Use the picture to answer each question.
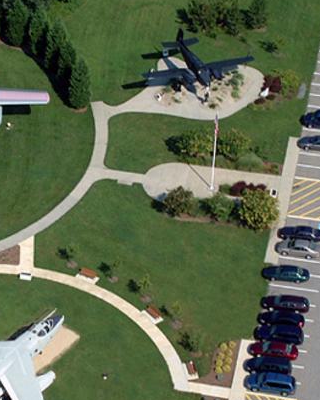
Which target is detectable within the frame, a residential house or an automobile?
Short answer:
automobile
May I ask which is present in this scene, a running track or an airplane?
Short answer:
airplane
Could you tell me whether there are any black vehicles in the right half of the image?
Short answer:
Yes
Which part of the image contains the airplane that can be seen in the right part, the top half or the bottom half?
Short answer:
top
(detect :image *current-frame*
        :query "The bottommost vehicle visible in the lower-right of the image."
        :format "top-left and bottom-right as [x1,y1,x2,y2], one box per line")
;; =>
[245,372,296,398]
